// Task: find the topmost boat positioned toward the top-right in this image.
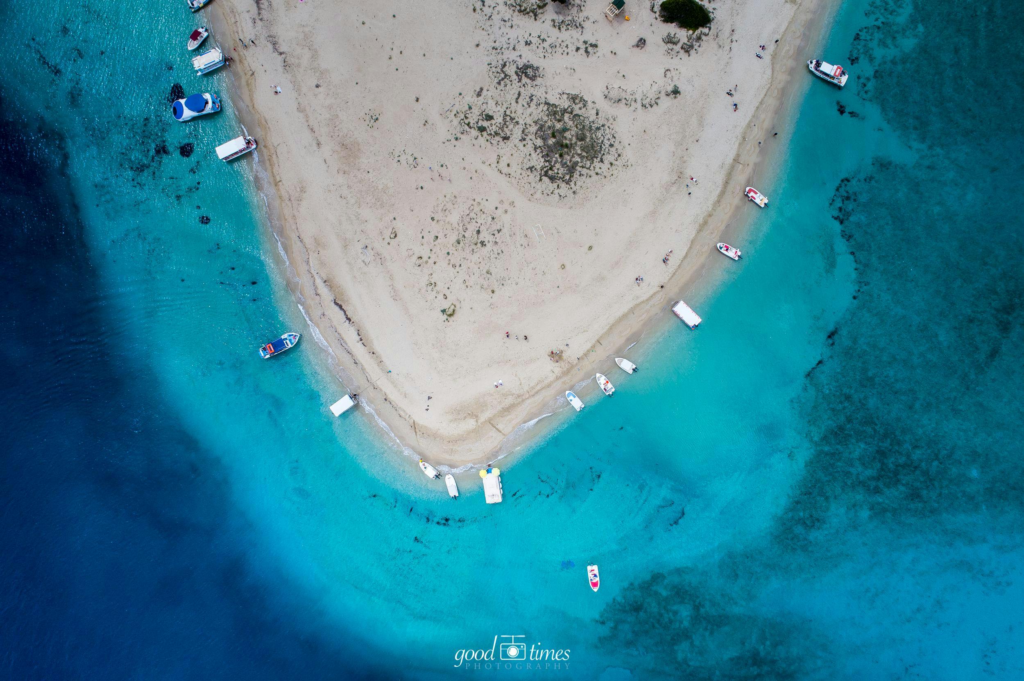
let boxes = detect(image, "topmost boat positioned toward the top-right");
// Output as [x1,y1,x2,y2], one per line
[808,60,847,86]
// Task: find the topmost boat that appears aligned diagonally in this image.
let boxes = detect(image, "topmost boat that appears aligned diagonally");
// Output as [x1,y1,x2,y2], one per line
[188,23,213,50]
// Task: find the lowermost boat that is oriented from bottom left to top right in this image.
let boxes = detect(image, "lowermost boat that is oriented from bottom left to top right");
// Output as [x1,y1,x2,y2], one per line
[332,393,360,416]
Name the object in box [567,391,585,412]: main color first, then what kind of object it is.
white boat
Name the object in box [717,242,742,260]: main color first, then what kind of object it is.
white boat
